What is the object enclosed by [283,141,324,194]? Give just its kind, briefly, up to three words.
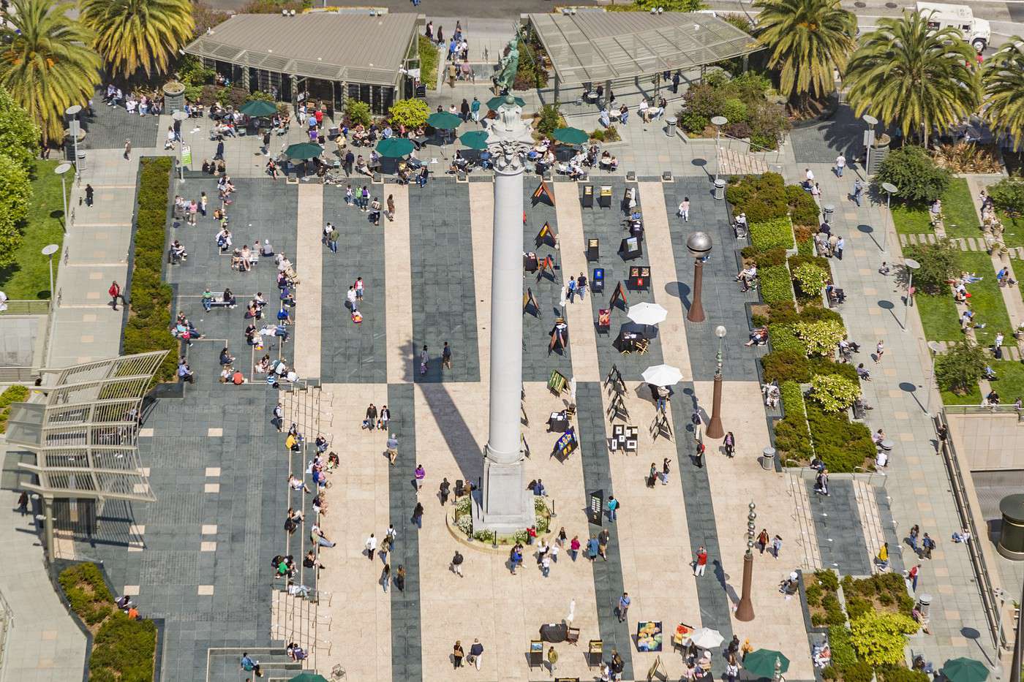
umbrella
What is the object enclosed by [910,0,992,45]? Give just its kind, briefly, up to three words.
truck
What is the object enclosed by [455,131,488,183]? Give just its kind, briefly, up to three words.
umbrella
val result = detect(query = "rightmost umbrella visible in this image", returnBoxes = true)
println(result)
[936,655,994,682]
